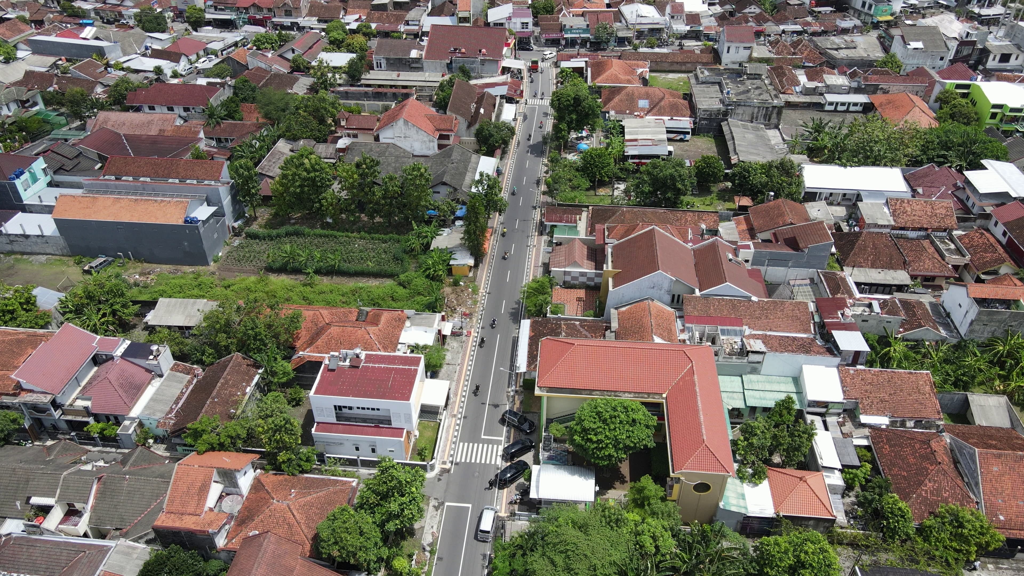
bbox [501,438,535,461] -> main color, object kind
black car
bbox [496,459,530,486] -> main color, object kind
black car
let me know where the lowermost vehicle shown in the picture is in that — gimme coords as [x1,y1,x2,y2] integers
[477,505,498,540]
